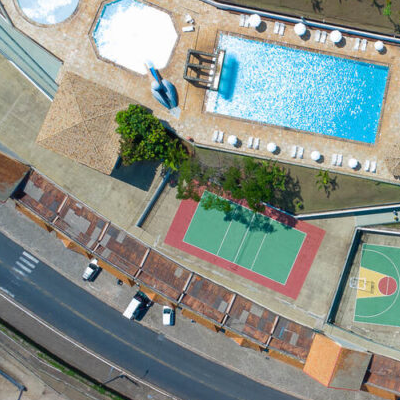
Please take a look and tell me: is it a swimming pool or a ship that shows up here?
swimming pool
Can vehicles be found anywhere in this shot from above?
Yes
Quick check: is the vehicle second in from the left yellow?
No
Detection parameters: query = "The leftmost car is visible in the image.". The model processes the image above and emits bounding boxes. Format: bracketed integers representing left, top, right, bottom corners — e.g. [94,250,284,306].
[83,258,99,280]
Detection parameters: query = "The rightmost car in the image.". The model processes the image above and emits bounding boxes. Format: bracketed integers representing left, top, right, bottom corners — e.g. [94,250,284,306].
[162,305,174,326]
